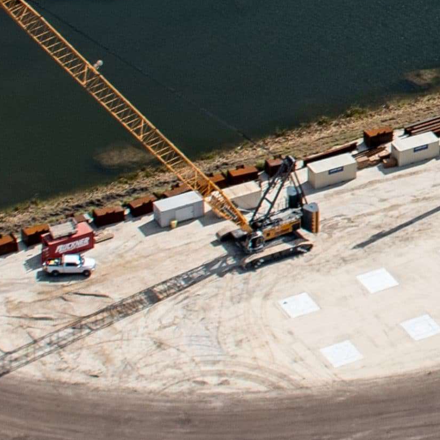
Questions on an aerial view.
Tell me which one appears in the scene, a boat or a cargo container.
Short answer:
cargo container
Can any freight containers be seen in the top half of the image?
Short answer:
Yes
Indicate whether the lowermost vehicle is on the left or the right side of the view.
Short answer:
left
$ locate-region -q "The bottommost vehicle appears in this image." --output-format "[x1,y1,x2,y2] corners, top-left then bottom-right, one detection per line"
[46,256,97,276]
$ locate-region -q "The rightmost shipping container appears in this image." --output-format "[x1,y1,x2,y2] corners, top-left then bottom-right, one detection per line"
[391,130,439,166]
